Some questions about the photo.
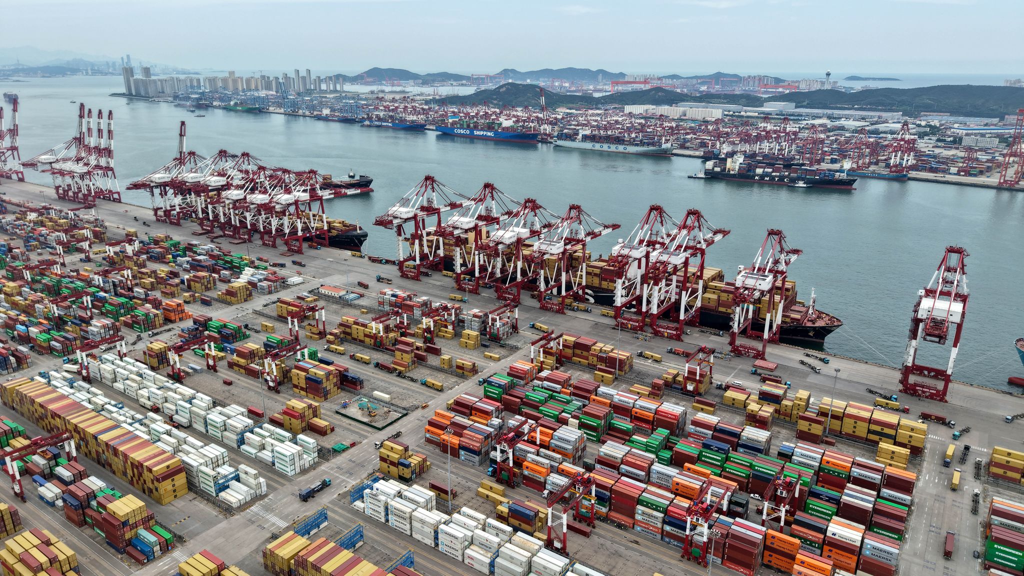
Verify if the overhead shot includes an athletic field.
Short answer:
No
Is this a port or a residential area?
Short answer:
port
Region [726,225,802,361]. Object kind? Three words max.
container crane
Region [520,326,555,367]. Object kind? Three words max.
container crane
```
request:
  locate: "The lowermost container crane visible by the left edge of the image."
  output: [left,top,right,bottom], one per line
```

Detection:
[5,424,86,500]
